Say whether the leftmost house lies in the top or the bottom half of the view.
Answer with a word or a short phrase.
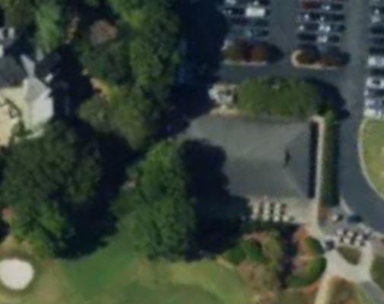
top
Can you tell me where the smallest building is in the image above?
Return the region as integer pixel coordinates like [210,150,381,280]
[210,85,235,105]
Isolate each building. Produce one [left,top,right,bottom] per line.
[210,85,235,105]
[0,30,53,148]
[188,117,311,199]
